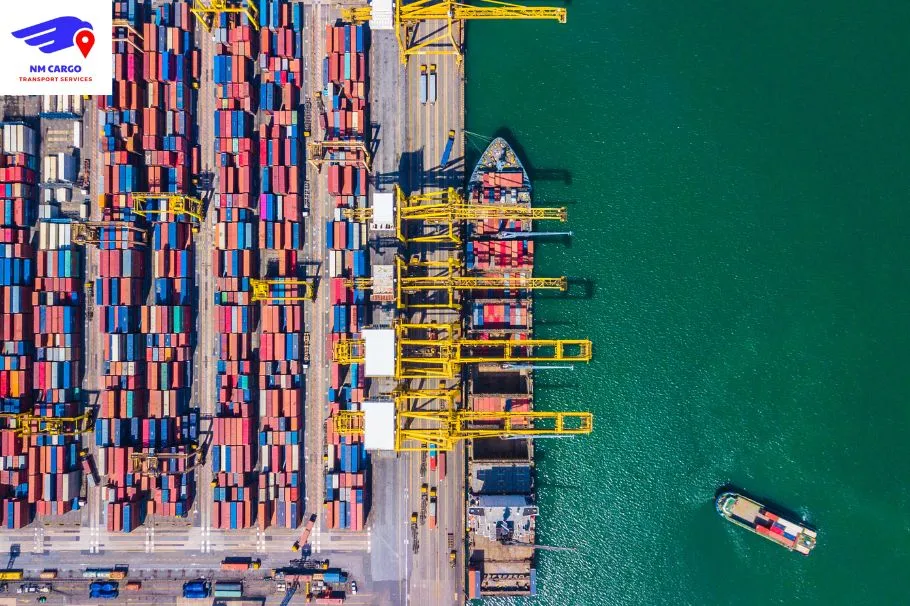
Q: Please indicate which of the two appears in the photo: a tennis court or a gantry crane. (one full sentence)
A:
The one in the frame is a gantry crane.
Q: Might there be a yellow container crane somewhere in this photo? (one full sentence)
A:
Yes, there is a yellow container crane in the image.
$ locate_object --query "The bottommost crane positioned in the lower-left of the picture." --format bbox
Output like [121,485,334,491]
[132,443,204,475]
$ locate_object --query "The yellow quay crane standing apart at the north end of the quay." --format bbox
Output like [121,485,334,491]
[345,0,567,79]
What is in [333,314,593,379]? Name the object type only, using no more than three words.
container crane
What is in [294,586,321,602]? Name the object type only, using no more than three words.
work vehicle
